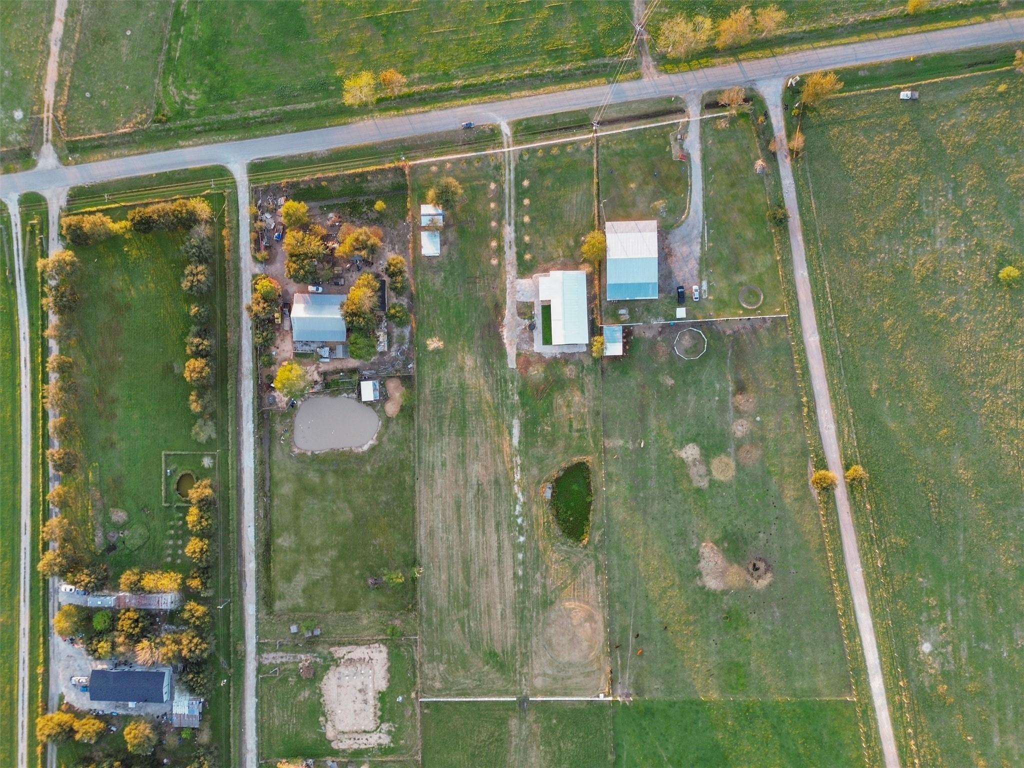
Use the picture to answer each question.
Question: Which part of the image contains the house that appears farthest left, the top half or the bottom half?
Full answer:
Seen from above, the house that appears farthest left lies in the bottom half of the view.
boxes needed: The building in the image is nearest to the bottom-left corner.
[86,668,168,702]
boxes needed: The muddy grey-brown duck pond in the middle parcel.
[294,397,379,451]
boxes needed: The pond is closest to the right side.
[553,463,592,540]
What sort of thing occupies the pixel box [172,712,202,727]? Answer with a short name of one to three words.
shed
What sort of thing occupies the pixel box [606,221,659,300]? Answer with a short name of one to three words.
barn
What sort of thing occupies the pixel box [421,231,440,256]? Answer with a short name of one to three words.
shed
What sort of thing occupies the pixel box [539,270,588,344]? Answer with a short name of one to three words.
house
